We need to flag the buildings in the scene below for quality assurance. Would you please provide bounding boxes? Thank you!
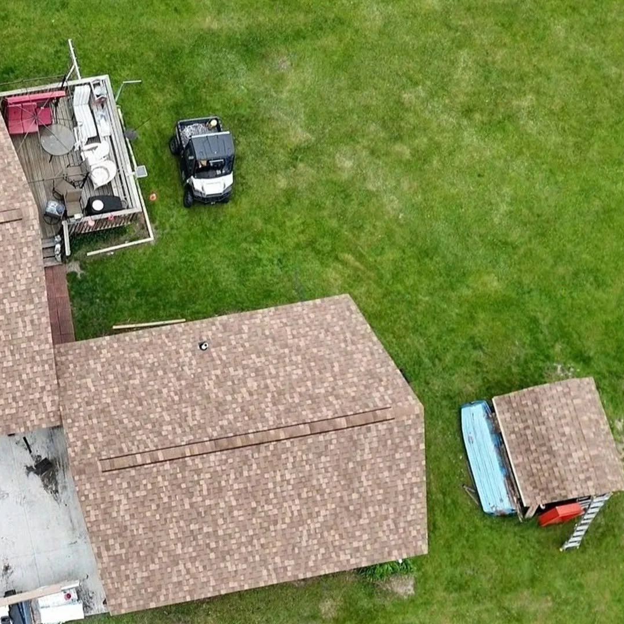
[481,377,624,522]
[54,293,428,616]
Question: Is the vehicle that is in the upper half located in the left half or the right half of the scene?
left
